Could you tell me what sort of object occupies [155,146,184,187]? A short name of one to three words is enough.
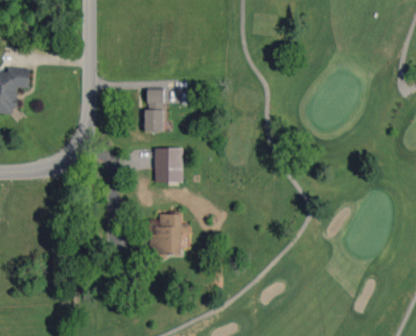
house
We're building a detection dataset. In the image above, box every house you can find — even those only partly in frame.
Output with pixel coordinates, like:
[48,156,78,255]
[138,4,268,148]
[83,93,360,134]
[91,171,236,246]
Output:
[144,88,168,134]
[149,214,192,258]
[155,146,184,187]
[0,68,31,113]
